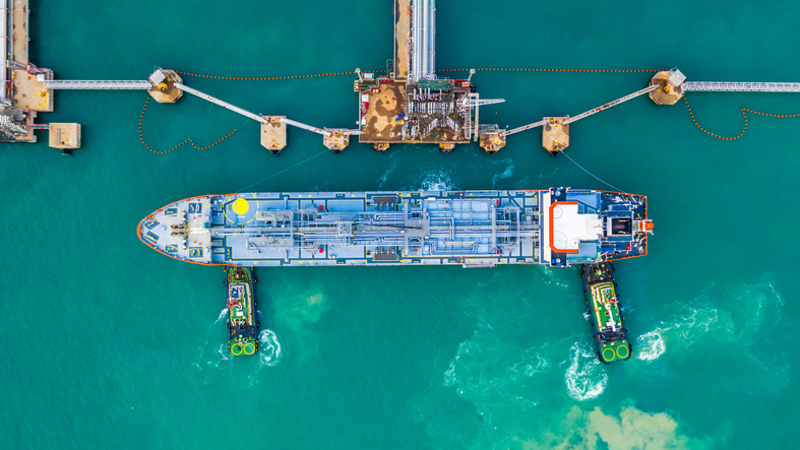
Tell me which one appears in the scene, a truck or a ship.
ship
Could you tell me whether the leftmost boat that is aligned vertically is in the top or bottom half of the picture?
bottom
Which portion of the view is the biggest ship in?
center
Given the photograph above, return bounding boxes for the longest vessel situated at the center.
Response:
[137,186,655,267]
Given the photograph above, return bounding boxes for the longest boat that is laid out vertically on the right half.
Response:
[583,262,634,366]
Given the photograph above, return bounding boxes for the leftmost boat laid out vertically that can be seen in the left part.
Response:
[225,266,259,360]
